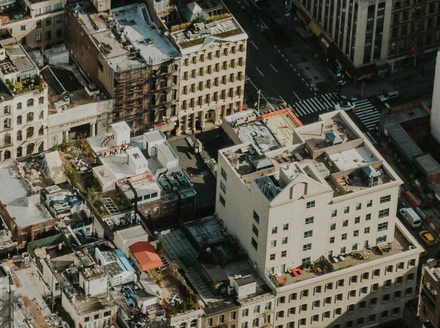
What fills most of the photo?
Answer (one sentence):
The scene is dominated by buildings.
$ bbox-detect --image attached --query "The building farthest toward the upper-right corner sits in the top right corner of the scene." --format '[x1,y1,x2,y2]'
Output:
[388,0,440,71]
